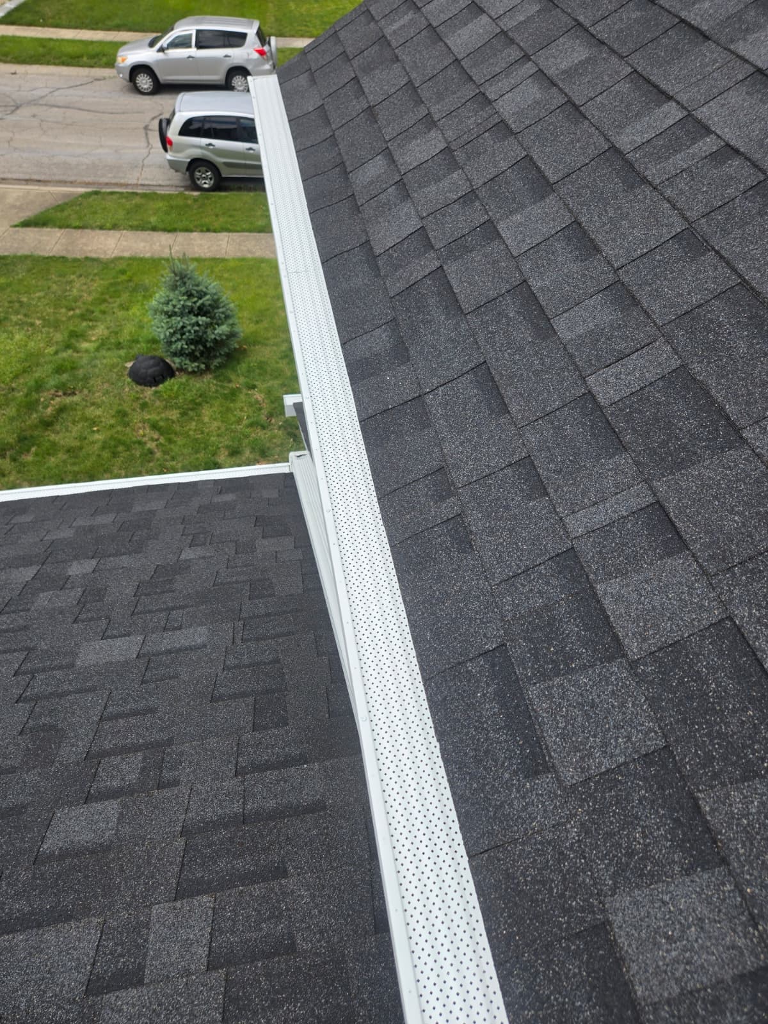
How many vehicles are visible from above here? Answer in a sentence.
In total, 2 vehicles can be seen.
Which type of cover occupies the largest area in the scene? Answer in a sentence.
The largest share of the image is taken up by buildings.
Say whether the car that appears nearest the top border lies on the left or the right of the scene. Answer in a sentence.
The car that appears nearest the top border is on the left side of the image.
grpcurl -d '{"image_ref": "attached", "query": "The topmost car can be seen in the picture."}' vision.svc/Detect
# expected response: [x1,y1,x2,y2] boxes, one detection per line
[112,14,278,98]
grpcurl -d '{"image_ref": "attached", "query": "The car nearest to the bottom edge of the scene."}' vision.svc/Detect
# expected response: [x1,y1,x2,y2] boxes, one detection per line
[160,93,265,193]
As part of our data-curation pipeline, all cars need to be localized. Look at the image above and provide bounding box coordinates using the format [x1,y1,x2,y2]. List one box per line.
[160,93,265,193]
[112,14,278,98]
